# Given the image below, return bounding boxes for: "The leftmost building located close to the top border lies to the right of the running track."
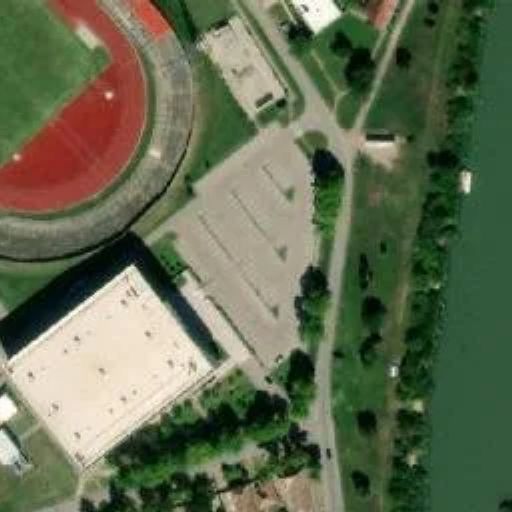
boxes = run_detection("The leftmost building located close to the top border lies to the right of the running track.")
[200,18,286,119]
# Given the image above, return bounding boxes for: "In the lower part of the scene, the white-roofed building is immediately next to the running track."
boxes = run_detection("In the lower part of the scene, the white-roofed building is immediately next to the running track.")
[8,266,214,467]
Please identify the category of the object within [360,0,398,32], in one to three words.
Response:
house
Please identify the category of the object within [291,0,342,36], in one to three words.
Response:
building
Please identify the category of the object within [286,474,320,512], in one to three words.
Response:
house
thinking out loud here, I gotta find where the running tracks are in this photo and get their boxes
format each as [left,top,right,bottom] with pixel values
[0,0,149,214]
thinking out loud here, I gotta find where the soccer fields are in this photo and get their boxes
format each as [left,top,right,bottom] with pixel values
[0,0,111,168]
